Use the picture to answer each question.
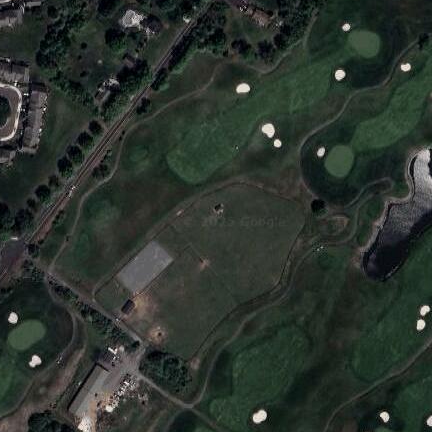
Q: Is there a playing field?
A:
Yes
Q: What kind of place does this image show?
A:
golf course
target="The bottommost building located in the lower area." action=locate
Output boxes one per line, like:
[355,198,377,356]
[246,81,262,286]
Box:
[68,364,109,418]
